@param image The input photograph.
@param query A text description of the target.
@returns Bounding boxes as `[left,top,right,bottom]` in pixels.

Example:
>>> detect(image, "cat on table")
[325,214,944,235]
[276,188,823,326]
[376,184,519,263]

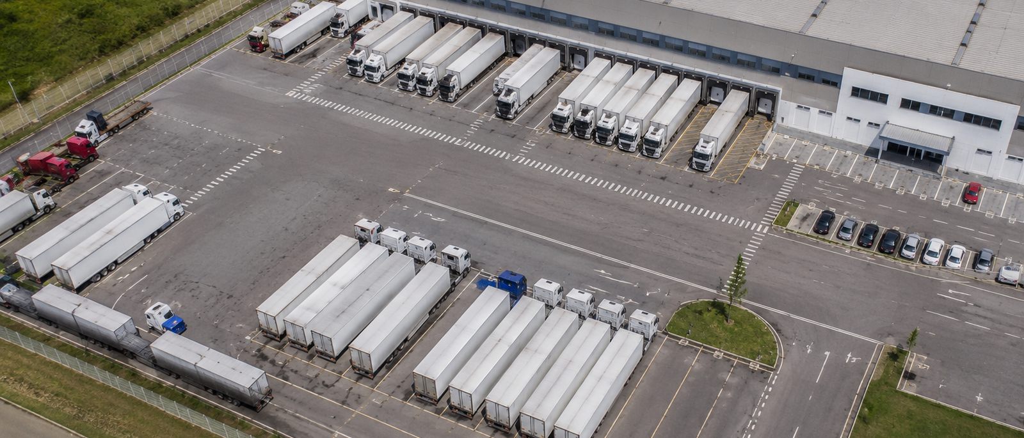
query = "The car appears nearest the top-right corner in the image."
[963,181,980,204]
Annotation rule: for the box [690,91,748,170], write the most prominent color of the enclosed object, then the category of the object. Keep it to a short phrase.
white truck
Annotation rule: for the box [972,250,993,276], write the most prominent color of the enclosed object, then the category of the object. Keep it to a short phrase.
gray car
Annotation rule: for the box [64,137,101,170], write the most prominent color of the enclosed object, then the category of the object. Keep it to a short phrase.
red truck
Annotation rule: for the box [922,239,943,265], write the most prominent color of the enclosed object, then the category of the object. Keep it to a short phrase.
white car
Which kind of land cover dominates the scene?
paved ground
